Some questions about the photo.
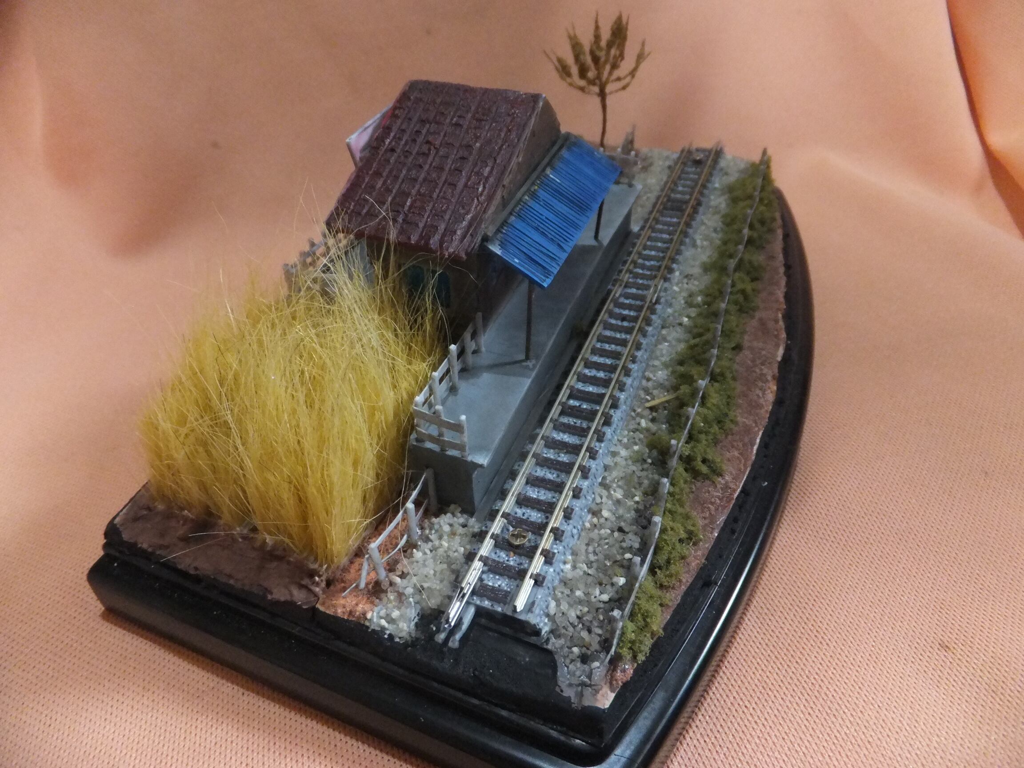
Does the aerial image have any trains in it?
No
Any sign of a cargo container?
No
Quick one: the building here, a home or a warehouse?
home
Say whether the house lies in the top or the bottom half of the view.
top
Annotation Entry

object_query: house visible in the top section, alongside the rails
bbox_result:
[318,81,620,373]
